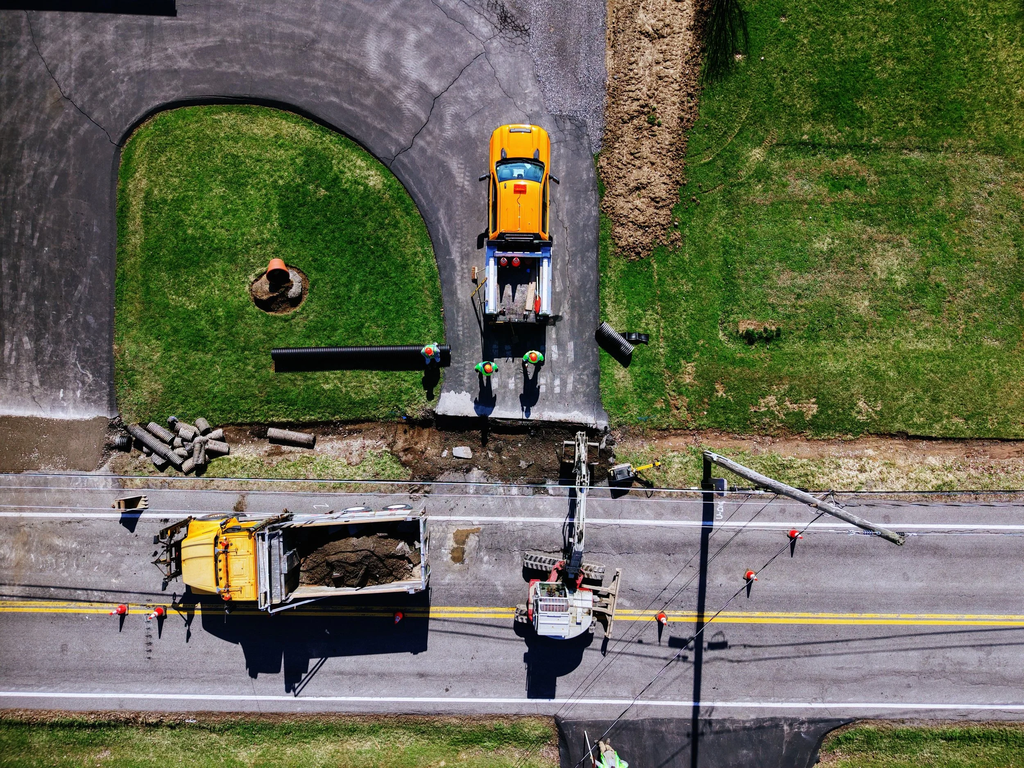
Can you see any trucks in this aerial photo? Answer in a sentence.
Yes, the photo shows a truck.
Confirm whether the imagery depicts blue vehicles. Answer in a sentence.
No, the frame has no blue vehicle in it.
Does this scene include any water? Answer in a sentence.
No, no water is visible.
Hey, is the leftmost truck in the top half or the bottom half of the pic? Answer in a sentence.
The bottom half of the photo is where the leftmost truck is.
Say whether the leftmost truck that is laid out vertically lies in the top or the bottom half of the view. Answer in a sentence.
The leftmost truck that is laid out vertically is in the top half of the image.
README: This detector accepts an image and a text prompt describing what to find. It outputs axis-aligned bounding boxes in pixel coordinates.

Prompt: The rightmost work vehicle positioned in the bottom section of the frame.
[513,429,627,641]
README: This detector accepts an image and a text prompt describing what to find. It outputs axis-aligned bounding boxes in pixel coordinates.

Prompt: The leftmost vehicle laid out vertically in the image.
[478,121,561,327]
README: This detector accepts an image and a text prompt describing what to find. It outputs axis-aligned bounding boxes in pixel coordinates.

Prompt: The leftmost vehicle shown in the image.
[149,501,435,620]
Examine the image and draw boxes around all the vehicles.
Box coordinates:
[149,501,435,620]
[513,429,627,641]
[478,121,561,327]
